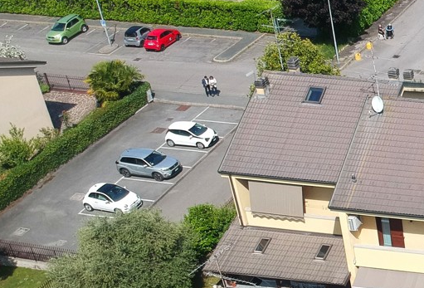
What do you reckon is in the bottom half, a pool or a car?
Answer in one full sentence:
Looking in the bottom half, you will find a car.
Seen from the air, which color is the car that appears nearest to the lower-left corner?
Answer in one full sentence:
The car that appears nearest to the lower-left corner looks white in the image.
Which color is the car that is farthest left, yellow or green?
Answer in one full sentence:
The car that is farthest left looks green in the image.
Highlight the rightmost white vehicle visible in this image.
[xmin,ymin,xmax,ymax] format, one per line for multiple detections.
[159,118,217,150]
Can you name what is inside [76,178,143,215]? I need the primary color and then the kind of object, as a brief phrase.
white car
